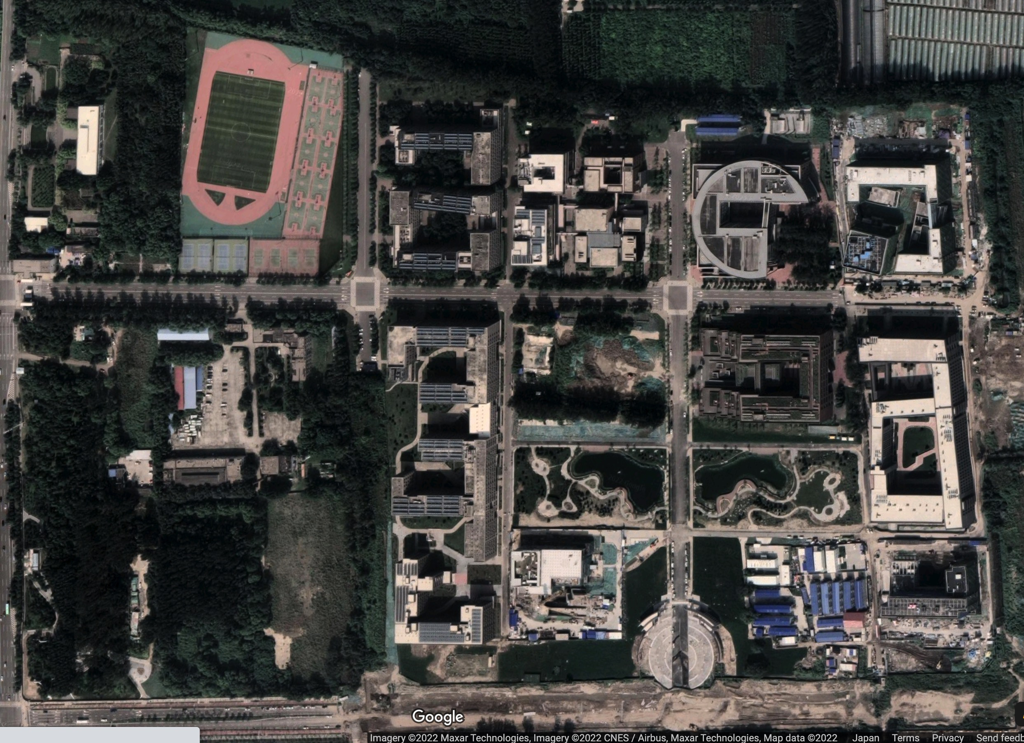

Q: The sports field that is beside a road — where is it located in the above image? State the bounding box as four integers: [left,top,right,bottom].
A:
[180,33,344,238]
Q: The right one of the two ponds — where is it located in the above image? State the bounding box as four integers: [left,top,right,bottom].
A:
[695,455,789,506]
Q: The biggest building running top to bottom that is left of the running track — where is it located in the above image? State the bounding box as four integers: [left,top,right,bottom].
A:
[76,104,106,173]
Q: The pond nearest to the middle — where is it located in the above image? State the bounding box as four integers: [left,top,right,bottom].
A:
[572,452,664,510]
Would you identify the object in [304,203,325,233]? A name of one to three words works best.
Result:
basketball court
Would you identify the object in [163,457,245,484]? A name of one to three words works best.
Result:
building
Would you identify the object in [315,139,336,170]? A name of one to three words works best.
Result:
basketball court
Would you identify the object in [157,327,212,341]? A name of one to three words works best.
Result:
shed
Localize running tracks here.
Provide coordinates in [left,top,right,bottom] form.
[181,39,310,226]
